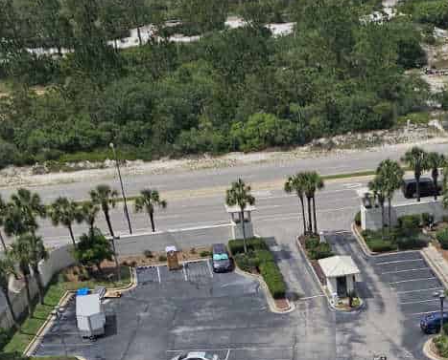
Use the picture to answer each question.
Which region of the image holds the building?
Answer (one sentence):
Look in the bottom right portion of the view to spot the building.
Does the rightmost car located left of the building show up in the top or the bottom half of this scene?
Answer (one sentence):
The bottom half of the photo is where the rightmost car located left of the building is.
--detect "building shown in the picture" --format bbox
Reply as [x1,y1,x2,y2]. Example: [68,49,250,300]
[317,256,362,301]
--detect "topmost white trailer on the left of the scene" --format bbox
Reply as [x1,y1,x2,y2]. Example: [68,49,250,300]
[77,293,110,341]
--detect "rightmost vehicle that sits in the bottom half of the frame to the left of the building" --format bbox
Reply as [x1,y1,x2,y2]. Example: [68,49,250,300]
[210,247,232,270]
